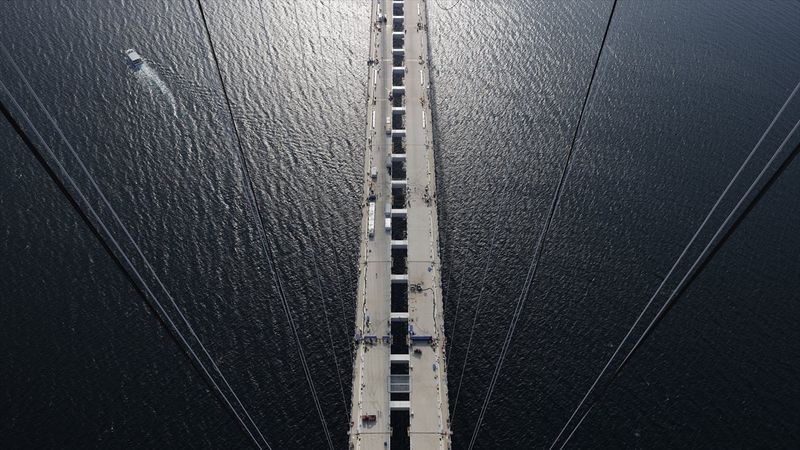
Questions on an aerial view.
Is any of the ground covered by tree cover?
No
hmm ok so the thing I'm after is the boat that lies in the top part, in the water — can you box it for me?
[126,49,143,67]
